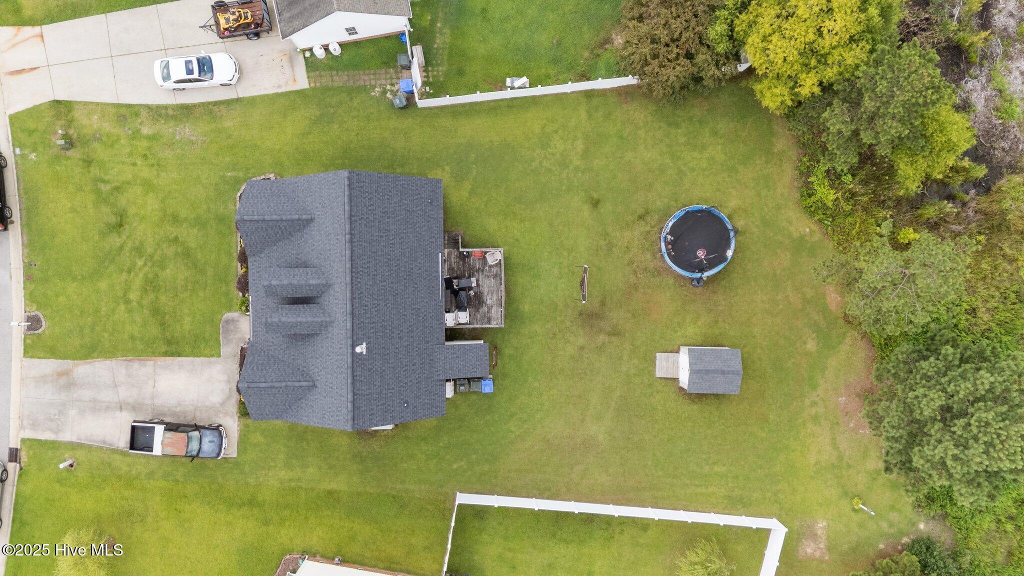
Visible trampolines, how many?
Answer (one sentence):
The picture shows 1 trampoline.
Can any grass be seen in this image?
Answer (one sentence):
Yes, the picture does contain grass.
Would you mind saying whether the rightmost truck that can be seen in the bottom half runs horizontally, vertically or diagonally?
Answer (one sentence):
From this overhead view, the rightmost truck that can be seen in the bottom half appears to run horizontally.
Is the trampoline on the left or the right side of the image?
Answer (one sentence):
The trampoline sits on the right side.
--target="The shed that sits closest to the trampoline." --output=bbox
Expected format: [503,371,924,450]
[680,346,742,394]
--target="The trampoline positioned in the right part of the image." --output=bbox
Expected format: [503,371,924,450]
[657,202,738,279]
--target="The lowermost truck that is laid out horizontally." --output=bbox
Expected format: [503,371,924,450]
[129,419,229,463]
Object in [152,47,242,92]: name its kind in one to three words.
car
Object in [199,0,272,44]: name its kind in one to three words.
trailer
